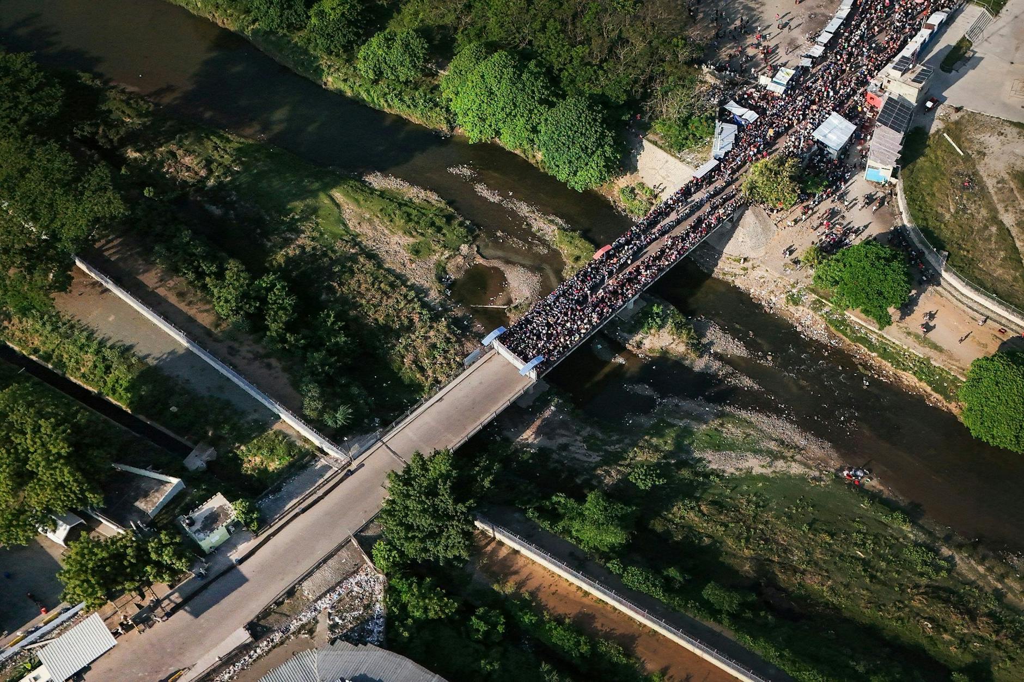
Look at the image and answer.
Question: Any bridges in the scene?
Yes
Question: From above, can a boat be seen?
No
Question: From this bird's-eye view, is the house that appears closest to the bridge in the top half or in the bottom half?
top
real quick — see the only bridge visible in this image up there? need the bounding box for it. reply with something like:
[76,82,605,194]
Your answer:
[397,179,745,461]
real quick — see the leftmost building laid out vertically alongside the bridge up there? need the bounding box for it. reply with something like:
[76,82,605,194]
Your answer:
[711,120,737,171]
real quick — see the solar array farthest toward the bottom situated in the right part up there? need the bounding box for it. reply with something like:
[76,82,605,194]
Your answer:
[876,96,913,133]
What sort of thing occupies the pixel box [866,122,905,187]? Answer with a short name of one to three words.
building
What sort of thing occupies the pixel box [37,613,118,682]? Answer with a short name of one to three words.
house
